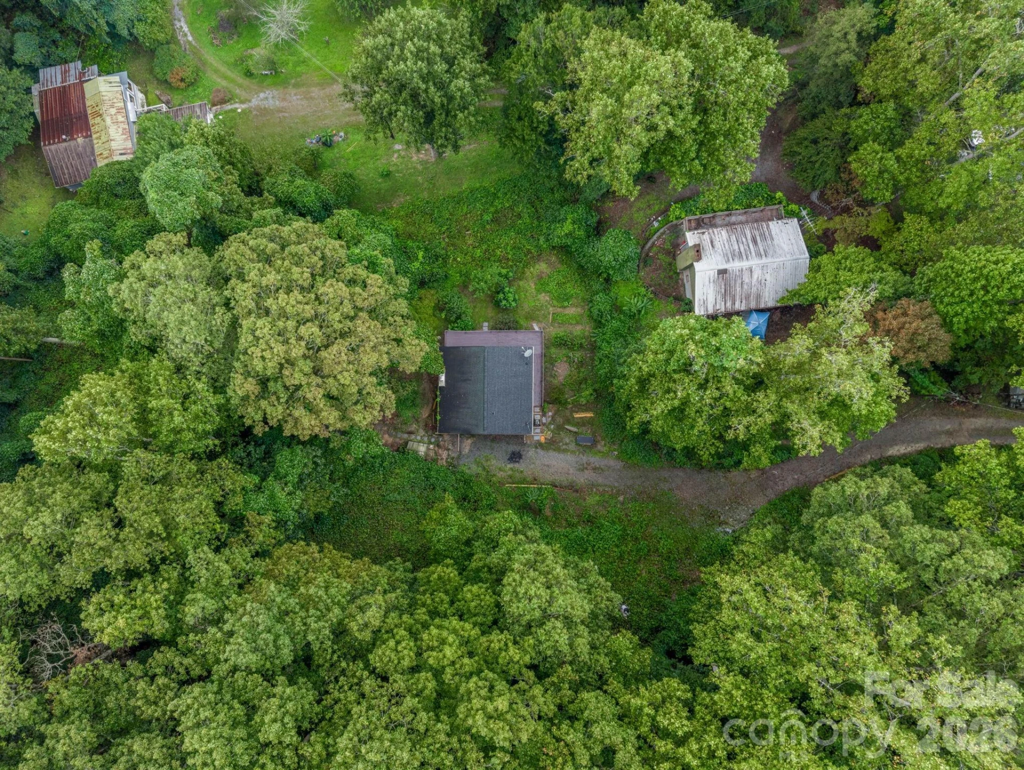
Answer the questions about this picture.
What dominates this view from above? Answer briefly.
trees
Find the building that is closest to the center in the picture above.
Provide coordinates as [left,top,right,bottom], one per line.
[437,330,543,436]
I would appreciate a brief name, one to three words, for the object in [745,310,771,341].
tent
